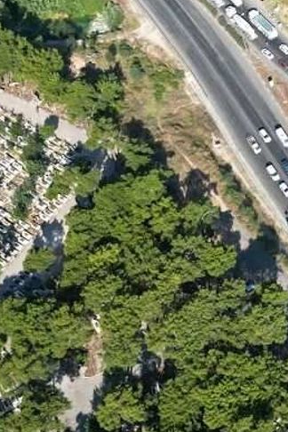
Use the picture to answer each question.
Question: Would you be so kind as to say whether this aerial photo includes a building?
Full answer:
No, this view has no building in it.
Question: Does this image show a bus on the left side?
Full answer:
No, the scene shows no bus on the left side.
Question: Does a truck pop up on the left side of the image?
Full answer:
No, there's no truck to be seen on the left side of the image.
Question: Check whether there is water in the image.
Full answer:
No, water can't be seen anywhere here.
